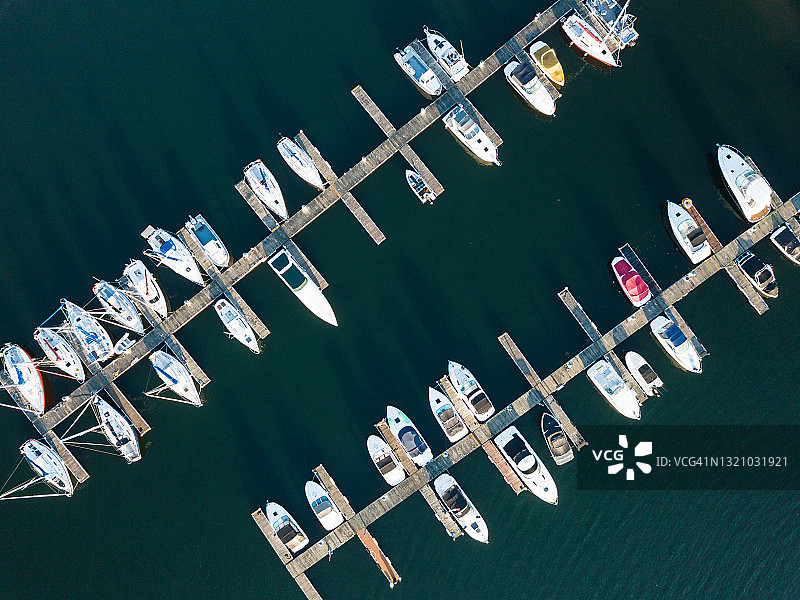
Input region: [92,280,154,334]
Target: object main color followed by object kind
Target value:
white boat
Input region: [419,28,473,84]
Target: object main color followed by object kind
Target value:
white boat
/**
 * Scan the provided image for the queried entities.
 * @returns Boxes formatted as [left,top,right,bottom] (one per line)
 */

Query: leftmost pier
[0,367,43,424]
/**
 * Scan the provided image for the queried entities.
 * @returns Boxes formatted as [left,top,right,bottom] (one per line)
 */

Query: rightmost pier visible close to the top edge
[573,2,620,53]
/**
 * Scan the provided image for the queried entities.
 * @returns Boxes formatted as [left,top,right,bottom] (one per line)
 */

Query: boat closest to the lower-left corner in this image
[3,438,78,502]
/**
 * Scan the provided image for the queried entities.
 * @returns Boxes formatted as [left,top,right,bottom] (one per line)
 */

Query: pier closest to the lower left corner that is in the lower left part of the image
[46,432,89,483]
